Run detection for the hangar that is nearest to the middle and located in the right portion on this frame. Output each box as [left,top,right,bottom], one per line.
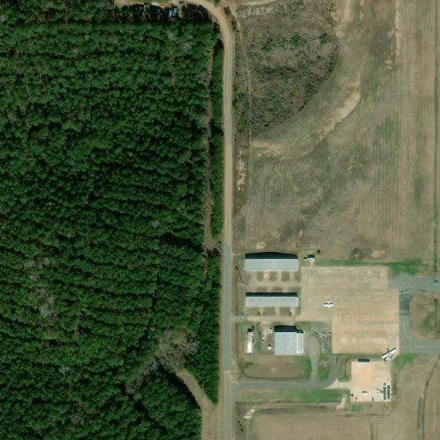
[245,256,298,271]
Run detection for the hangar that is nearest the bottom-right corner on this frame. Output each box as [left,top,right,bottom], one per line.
[275,331,304,355]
